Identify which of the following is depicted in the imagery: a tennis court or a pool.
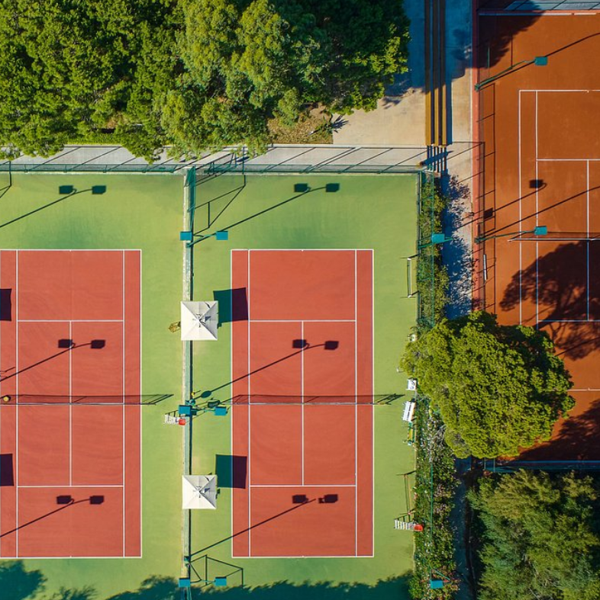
tennis court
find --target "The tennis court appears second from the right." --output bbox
[190,171,417,600]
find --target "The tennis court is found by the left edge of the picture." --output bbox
[0,171,184,600]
